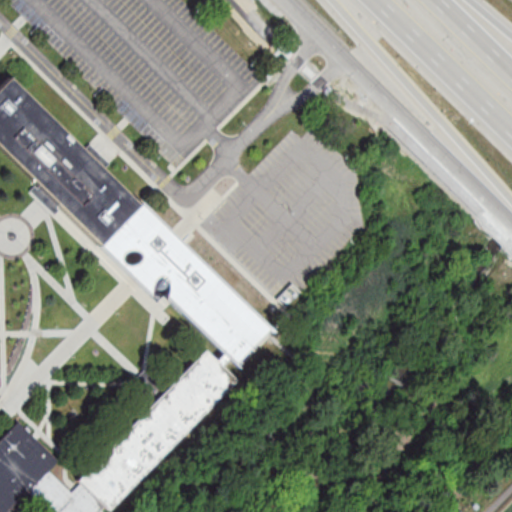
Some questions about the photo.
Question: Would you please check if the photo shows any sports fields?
No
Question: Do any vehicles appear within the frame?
No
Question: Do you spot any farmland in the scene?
No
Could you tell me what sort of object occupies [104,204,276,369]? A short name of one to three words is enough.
building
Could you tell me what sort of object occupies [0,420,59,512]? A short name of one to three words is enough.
building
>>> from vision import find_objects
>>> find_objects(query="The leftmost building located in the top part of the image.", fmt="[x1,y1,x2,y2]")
[0,78,143,244]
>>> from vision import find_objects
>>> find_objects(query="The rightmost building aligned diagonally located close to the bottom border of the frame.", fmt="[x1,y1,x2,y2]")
[80,350,230,512]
